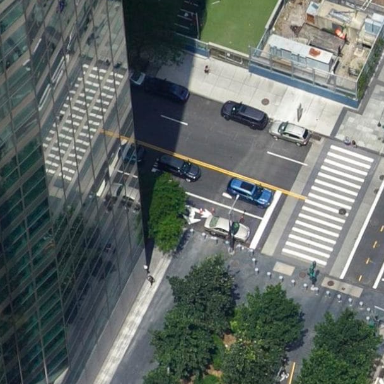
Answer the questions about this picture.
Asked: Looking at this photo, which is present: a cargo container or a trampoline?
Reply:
cargo container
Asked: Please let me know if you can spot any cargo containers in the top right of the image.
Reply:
Yes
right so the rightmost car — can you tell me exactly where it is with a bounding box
[269,123,312,149]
